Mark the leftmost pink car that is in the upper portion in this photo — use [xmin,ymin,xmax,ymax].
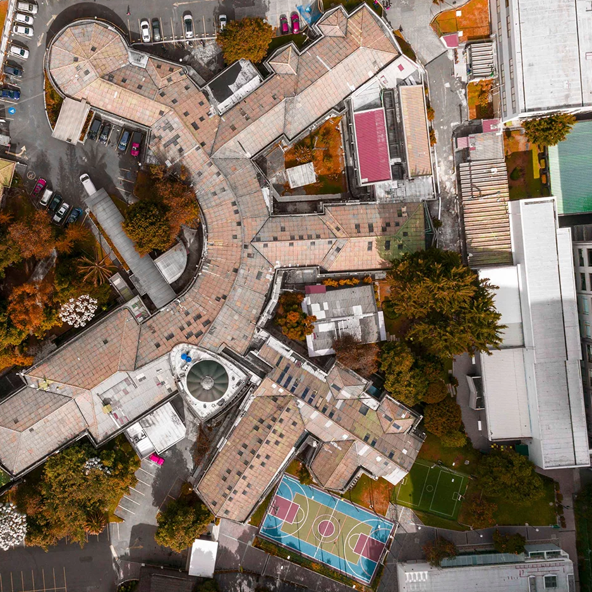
[32,176,47,197]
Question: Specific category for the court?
basketball court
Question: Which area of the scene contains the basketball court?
bottom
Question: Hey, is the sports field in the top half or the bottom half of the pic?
bottom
